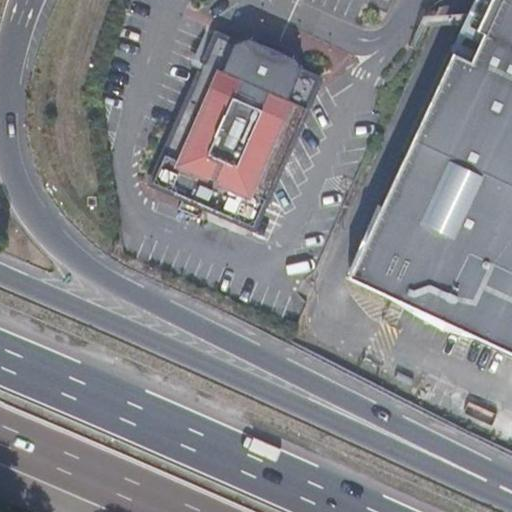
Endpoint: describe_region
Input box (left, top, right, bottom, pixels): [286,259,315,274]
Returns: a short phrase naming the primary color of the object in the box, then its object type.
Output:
white vehicle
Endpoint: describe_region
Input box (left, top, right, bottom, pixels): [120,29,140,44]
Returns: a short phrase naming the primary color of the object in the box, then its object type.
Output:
white car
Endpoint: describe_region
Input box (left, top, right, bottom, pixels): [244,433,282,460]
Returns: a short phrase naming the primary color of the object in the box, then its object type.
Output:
white truck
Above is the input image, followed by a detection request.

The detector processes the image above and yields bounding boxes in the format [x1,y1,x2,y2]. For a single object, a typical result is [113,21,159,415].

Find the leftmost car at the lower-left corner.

[14,438,34,452]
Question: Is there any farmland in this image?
No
